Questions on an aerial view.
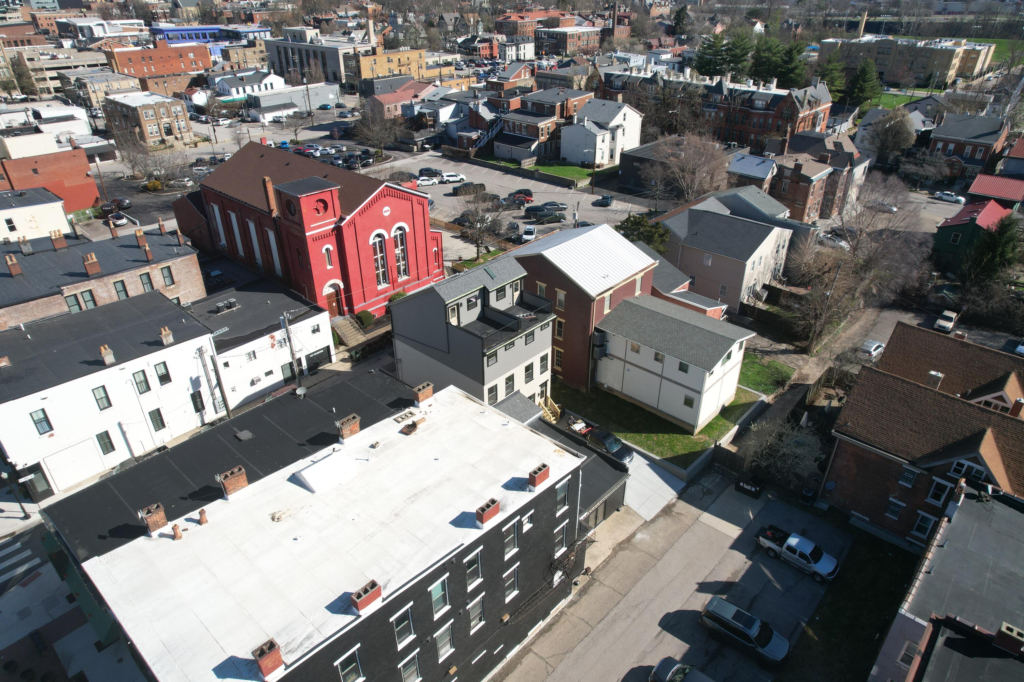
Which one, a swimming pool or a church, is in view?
church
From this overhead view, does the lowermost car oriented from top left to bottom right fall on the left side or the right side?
right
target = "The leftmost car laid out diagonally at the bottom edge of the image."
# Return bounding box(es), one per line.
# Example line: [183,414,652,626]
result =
[699,593,791,668]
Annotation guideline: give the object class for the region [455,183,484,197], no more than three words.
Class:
vehicle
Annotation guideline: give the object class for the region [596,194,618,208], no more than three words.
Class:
car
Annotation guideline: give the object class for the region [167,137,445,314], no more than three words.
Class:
church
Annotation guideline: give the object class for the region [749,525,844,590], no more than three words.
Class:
truck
